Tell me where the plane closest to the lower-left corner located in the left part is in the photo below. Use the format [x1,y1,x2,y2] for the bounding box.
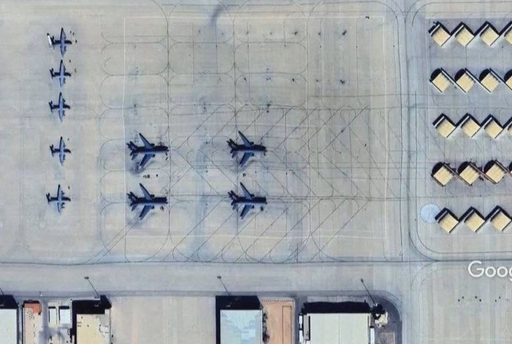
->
[49,185,70,214]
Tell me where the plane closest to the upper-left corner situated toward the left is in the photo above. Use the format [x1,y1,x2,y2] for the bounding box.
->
[50,29,72,58]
